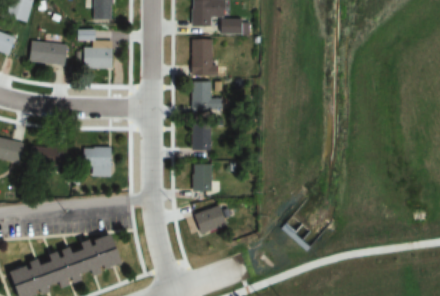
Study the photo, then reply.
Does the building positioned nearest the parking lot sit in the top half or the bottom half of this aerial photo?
bottom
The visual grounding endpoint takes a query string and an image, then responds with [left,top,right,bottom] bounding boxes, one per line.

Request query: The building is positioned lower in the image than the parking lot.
[9,234,120,296]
